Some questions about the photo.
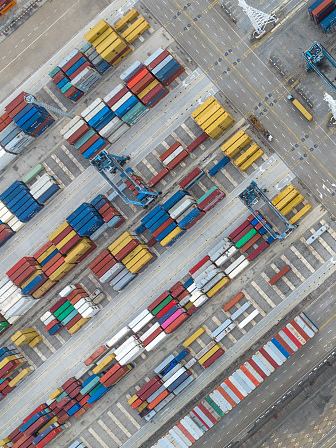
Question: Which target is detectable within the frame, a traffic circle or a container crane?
container crane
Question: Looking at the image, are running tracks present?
No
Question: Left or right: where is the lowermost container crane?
right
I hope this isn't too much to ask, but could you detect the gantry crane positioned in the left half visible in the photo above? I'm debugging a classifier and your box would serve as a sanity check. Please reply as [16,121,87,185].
[95,149,171,210]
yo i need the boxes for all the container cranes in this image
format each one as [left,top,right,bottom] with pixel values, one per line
[95,149,171,210]
[239,181,302,241]
[300,37,336,94]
